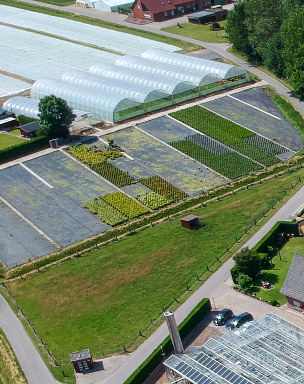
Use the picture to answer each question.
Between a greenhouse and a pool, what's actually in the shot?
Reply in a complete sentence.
Looking from above, you can make out a greenhouse.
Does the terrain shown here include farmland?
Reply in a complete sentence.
Yes, the picture does contain farmland.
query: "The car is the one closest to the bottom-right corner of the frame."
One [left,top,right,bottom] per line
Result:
[227,312,250,327]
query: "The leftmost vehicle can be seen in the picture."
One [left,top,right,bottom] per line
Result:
[212,308,234,325]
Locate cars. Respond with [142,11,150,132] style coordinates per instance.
[212,308,234,325]
[227,312,250,327]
